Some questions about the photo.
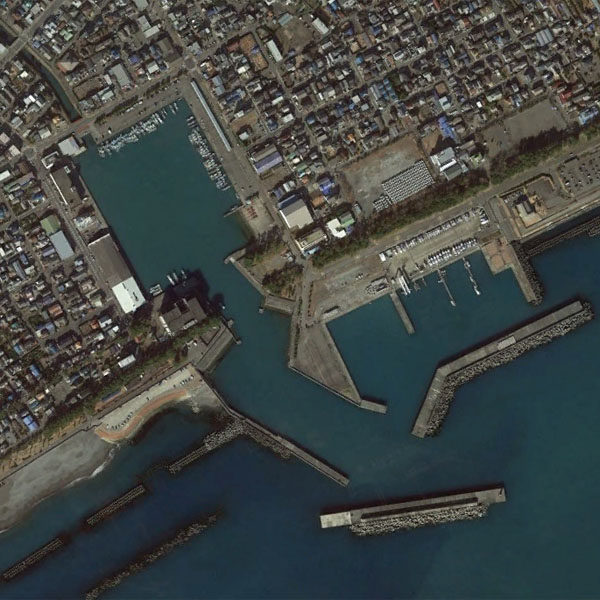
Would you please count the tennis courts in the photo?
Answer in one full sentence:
The picture shows no tennis courts.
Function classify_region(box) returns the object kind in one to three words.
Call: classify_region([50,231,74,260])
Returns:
building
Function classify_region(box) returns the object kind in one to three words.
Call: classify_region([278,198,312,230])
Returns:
building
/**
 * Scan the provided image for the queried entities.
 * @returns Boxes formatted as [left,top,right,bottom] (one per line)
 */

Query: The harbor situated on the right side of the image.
[325,210,492,322]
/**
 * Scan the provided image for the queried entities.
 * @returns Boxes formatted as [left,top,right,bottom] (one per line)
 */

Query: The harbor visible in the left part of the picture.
[70,80,296,318]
